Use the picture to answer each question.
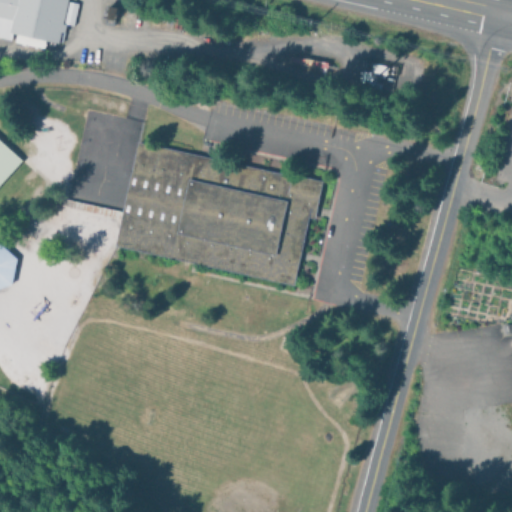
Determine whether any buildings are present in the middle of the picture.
Yes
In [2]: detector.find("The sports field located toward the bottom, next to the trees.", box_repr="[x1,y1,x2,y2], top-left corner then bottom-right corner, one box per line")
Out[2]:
[42,322,345,512]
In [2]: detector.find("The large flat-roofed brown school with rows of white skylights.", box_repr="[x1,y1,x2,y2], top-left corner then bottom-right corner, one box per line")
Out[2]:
[118,143,324,290]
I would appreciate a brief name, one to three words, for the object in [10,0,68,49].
building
